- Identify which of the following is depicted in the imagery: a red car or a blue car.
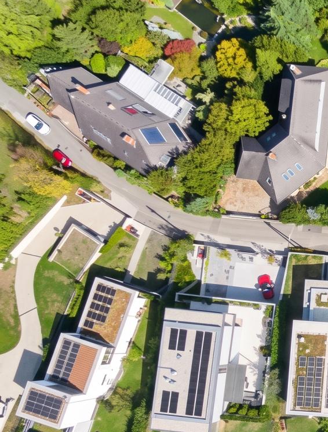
red car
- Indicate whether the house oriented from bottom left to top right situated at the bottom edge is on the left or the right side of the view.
left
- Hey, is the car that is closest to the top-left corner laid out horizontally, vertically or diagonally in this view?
diagonally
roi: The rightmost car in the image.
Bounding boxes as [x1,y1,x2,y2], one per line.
[257,272,275,300]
